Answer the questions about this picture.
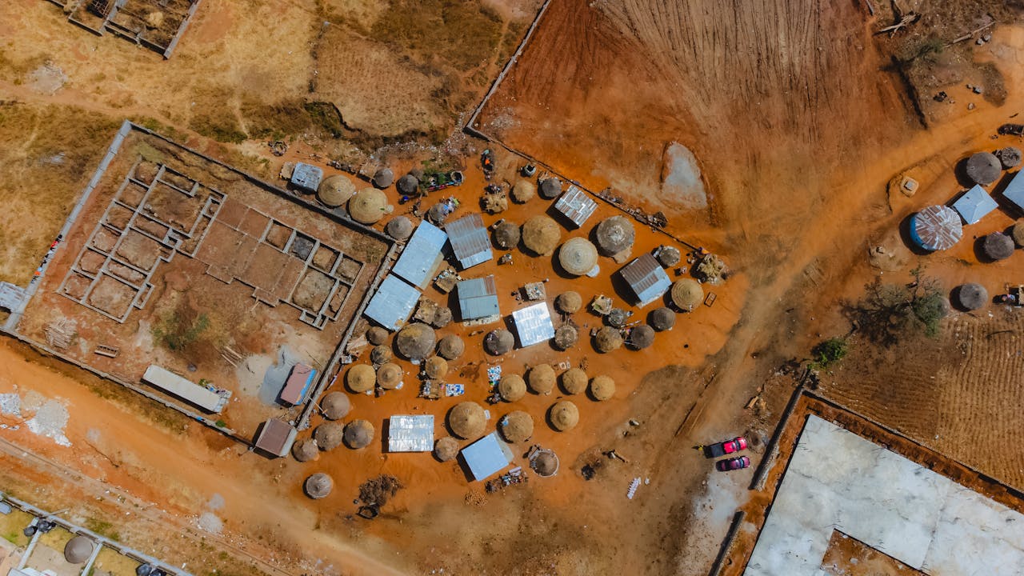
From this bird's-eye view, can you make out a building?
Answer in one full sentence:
Yes, a building can be made out from above.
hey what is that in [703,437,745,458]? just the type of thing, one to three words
truck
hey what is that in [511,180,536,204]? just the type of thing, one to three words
shed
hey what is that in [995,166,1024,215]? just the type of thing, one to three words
house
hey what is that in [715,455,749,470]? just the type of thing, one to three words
car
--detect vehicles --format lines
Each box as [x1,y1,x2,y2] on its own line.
[703,437,745,458]
[715,455,749,470]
